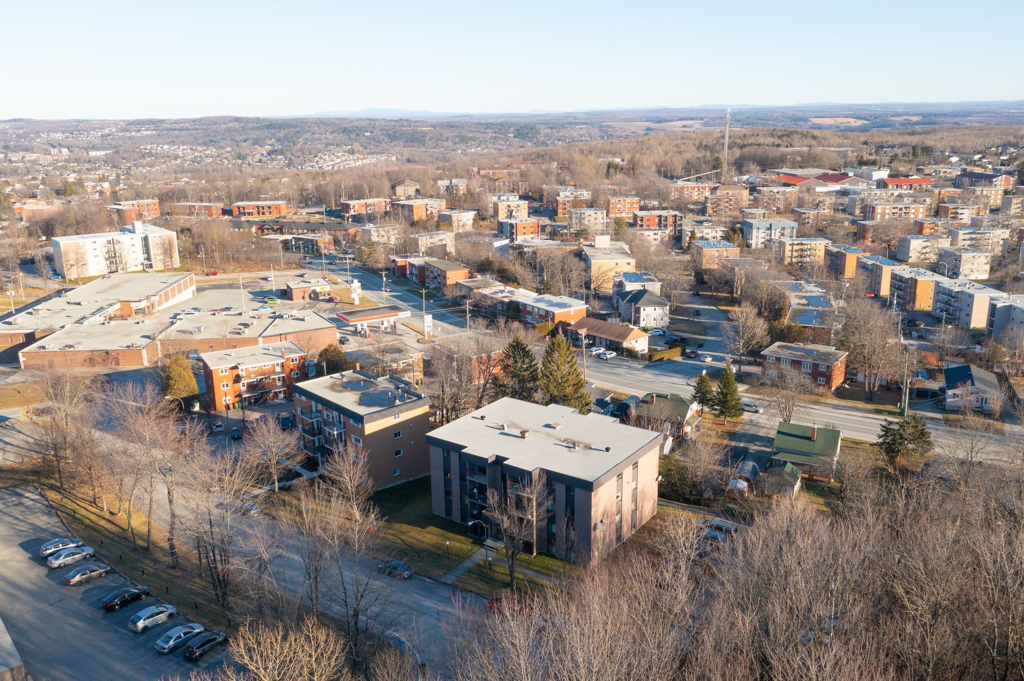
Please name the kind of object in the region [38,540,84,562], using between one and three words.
car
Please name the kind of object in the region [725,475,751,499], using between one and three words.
shed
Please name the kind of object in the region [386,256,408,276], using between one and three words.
building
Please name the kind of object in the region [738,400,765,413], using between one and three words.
vehicle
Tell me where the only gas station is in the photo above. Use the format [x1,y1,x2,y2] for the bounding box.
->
[336,306,410,338]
